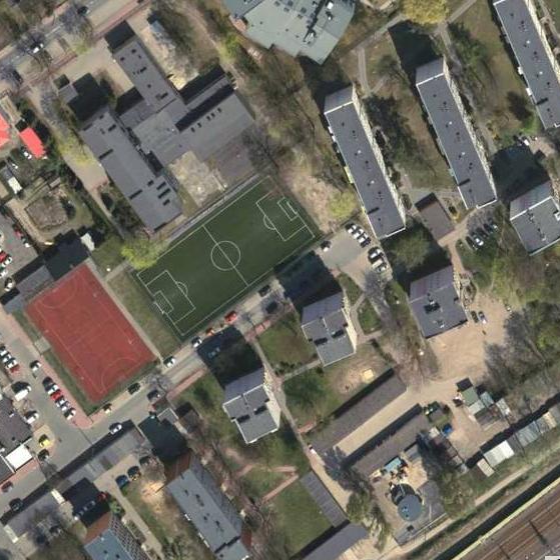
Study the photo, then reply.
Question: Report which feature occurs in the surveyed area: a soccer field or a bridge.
soccer field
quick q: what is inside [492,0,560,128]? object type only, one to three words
building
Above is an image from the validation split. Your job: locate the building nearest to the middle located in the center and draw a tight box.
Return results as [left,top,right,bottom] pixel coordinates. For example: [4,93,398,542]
[301,293,356,366]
